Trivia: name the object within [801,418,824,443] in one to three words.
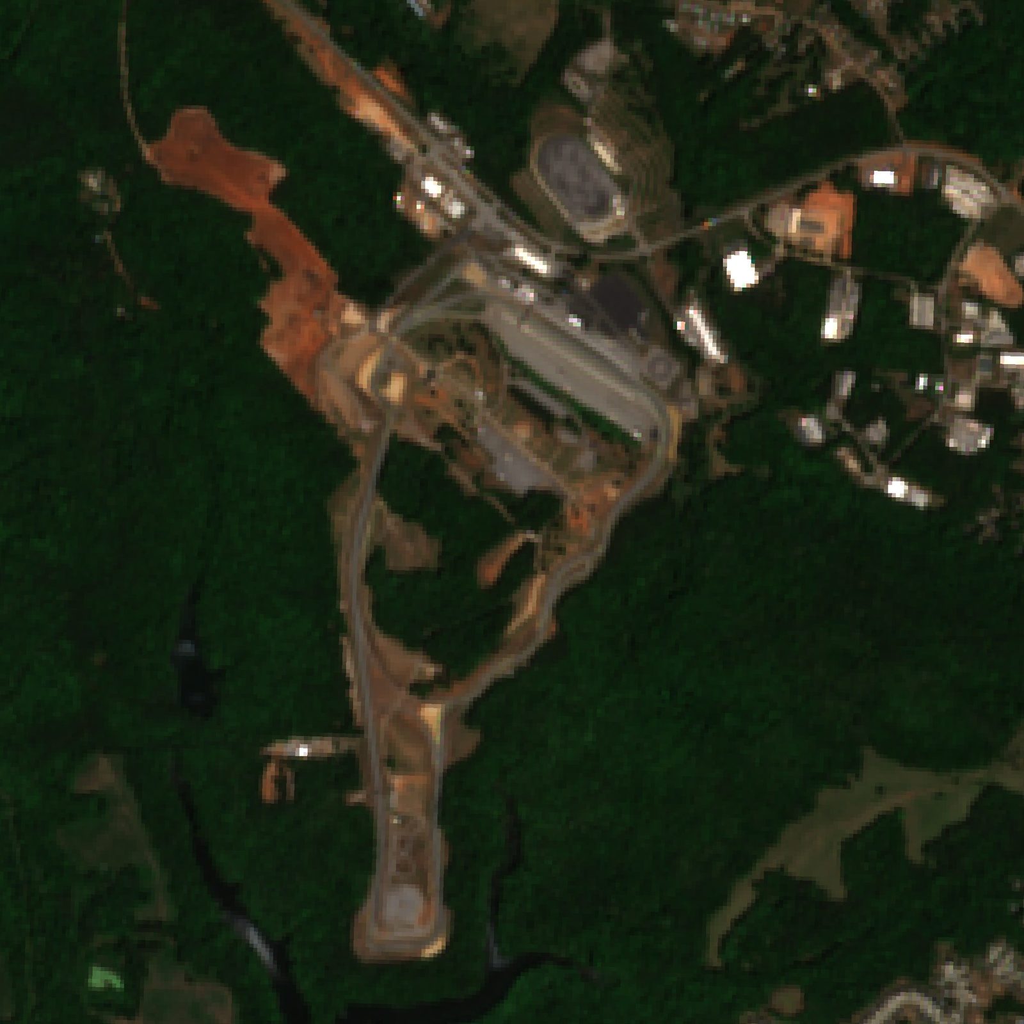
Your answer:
building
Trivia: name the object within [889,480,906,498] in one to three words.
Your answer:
building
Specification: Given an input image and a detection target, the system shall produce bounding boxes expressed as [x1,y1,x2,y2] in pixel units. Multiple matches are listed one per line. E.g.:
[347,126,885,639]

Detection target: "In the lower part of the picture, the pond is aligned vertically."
[173,575,225,717]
